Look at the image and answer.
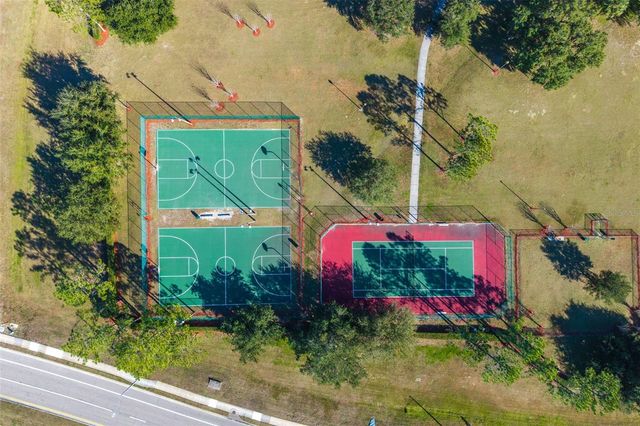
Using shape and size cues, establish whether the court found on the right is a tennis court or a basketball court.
tennis court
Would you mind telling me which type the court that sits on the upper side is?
basketball court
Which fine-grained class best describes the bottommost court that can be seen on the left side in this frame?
basketball court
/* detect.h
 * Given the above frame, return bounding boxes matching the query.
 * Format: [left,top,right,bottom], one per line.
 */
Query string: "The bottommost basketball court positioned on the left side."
[159,227,291,306]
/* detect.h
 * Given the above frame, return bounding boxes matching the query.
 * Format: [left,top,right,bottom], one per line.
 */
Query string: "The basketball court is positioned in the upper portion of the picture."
[158,129,291,209]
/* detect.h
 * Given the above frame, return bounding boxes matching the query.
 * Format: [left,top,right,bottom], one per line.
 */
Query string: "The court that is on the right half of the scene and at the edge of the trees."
[321,222,505,314]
